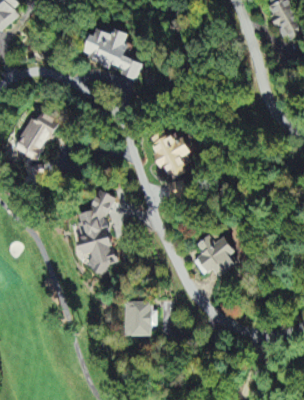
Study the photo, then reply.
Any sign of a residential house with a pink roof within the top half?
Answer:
No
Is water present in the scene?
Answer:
No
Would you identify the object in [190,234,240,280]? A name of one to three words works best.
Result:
house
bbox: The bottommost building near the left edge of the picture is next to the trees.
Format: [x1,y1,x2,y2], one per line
[14,112,59,162]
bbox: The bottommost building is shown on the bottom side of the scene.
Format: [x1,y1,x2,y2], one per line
[125,302,159,338]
